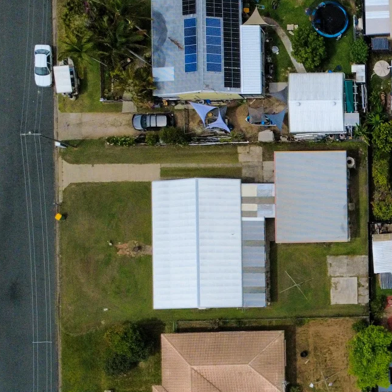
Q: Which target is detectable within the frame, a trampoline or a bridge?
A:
trampoline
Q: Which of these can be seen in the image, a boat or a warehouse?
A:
boat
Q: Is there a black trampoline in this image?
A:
Yes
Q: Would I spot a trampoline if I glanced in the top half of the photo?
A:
Yes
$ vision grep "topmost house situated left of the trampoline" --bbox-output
[151,0,269,101]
